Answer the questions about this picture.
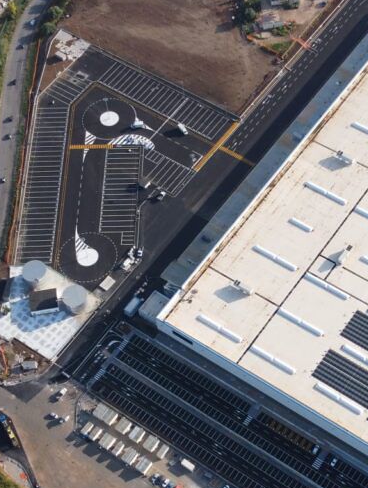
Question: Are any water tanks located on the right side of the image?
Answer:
No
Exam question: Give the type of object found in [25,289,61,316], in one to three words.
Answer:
building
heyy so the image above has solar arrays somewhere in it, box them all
[341,310,368,349]
[312,351,368,410]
